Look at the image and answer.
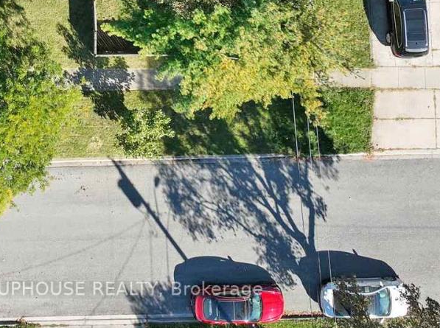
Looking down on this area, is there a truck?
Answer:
No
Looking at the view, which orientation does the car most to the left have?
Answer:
horizontally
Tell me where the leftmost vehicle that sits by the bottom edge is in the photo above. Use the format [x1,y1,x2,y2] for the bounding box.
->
[191,279,281,325]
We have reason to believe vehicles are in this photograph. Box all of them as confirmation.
[386,0,432,58]
[316,274,408,320]
[191,279,281,325]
